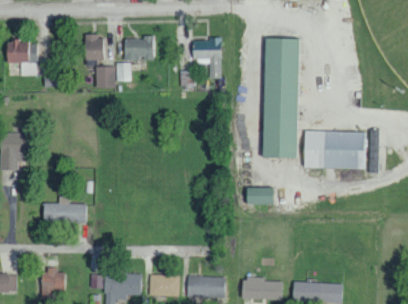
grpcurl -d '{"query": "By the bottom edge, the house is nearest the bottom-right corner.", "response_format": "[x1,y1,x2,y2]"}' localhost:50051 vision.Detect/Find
[293,282,343,303]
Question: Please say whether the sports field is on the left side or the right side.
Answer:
right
